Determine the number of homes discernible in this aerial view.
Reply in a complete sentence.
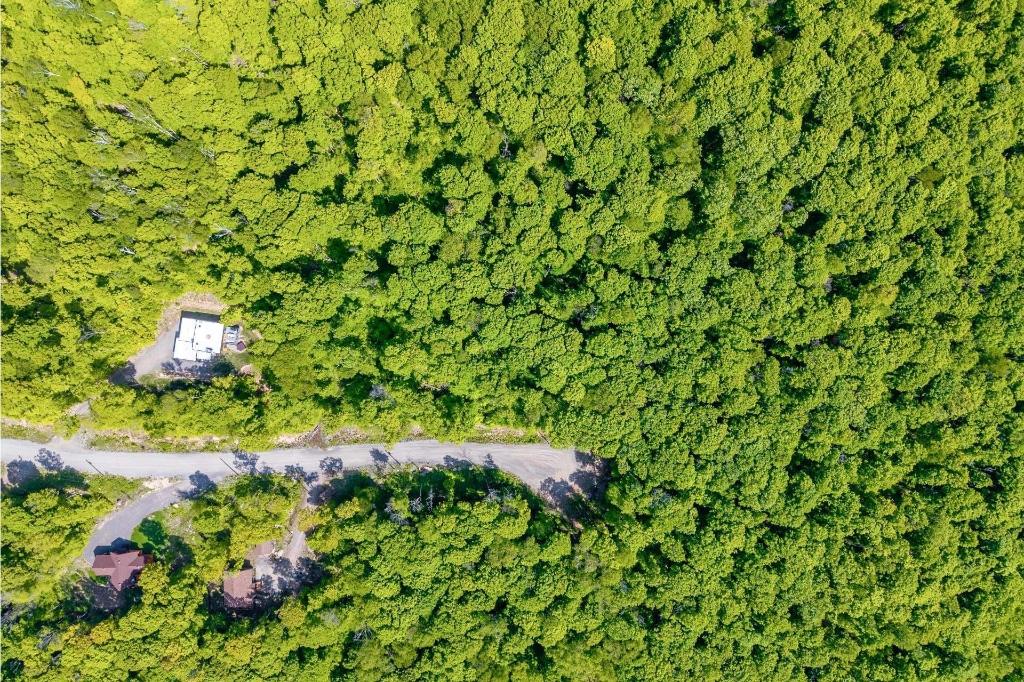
The count of homes comes to 3.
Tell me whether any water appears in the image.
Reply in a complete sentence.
No, the scene doesn't show any water.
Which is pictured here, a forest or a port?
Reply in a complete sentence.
This image shows a forest.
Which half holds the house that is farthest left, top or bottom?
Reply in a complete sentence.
Seen from above, the house that is farthest left lies in the bottom half of the view.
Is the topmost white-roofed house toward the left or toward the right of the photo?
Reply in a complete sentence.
The topmost white-roofed house is on the left side of the image.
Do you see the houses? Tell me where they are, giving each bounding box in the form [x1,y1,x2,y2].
[173,318,230,361]
[92,549,154,591]
[223,567,263,611]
